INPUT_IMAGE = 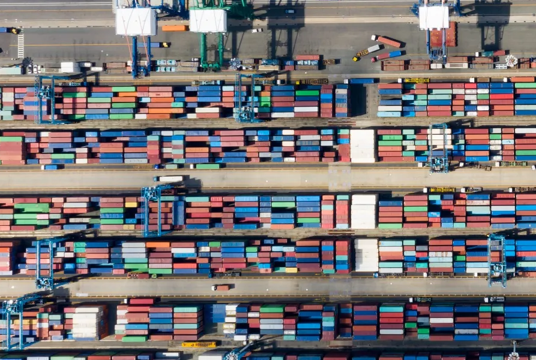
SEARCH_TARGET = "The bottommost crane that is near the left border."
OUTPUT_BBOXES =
[2,293,54,352]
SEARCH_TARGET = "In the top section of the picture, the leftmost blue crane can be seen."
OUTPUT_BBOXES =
[35,74,86,125]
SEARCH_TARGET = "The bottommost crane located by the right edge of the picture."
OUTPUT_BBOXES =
[482,230,514,288]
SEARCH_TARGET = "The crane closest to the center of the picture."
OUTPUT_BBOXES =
[233,73,274,123]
